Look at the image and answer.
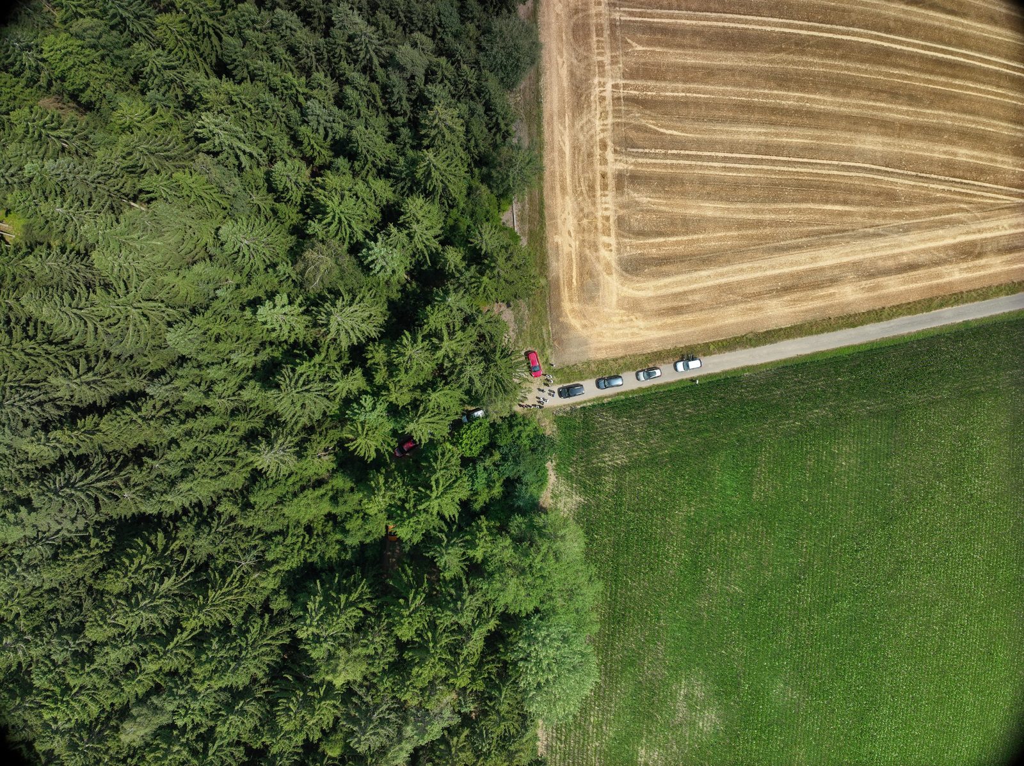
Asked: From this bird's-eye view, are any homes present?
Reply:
No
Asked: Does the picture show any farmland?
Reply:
Yes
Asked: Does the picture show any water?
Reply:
No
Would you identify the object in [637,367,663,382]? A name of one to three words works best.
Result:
car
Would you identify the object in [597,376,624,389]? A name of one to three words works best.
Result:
vehicle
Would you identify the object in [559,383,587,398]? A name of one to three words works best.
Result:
car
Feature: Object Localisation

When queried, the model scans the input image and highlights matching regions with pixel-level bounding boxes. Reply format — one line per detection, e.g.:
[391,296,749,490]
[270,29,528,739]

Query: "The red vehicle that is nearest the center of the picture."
[528,351,542,377]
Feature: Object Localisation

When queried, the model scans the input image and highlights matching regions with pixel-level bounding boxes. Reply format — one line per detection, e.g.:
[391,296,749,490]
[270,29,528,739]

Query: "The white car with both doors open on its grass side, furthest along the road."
[675,355,703,372]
